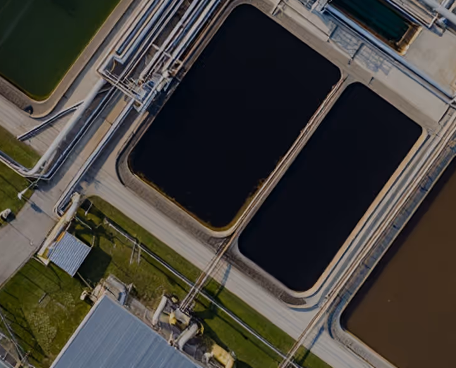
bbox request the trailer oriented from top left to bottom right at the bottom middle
[209,338,247,368]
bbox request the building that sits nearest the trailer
[49,277,209,368]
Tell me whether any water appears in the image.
Yes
